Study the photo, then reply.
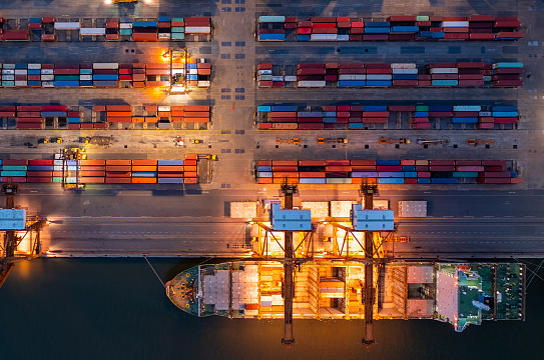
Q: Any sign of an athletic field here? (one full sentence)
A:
No, no athletic field is visible in the scene.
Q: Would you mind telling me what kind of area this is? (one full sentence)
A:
The picture captures a port.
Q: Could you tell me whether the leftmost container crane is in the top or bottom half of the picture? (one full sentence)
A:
The leftmost container crane is in the bottom half of the image.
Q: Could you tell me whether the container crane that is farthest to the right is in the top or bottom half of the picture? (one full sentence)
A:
The bottom half of the photo is where the container crane that is farthest to the right is.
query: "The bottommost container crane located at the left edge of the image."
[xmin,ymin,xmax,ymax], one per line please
[0,176,49,297]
